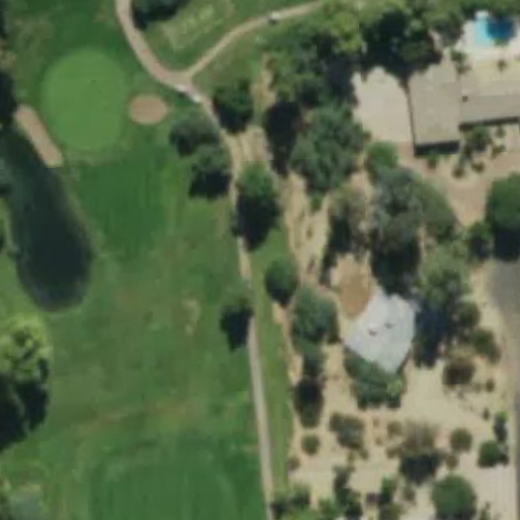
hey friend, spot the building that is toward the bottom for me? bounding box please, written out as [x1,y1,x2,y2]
[343,286,417,372]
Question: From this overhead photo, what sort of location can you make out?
golf course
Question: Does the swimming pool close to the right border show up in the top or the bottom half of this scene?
top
